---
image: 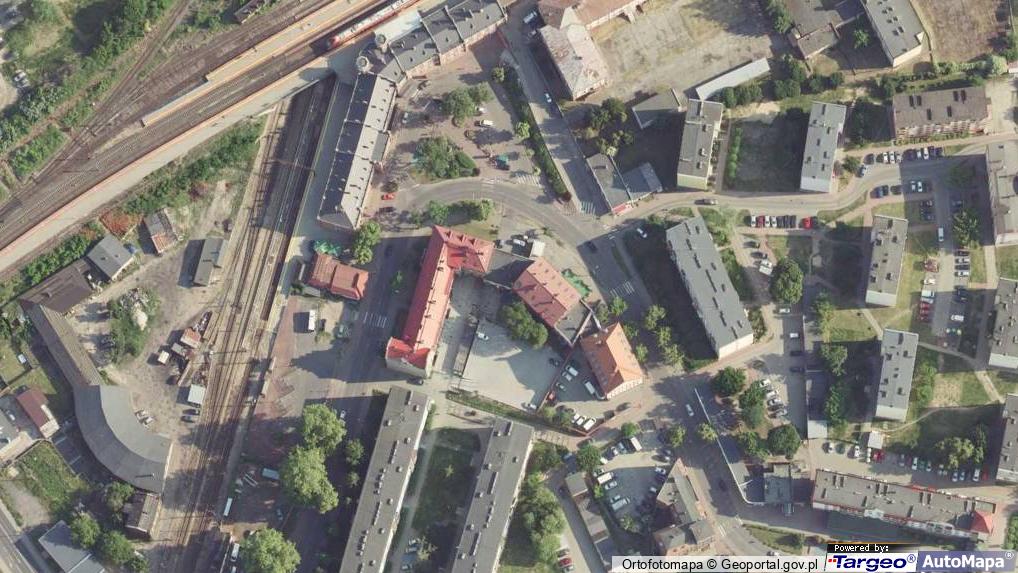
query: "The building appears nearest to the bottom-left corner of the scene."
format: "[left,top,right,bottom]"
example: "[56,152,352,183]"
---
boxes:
[39,520,108,573]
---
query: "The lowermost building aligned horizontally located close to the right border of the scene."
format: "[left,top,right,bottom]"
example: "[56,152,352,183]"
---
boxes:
[811,470,996,542]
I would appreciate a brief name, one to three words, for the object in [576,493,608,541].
shed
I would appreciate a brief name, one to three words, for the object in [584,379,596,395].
vehicle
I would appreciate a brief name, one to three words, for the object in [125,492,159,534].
building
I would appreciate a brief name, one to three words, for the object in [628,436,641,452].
vehicle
